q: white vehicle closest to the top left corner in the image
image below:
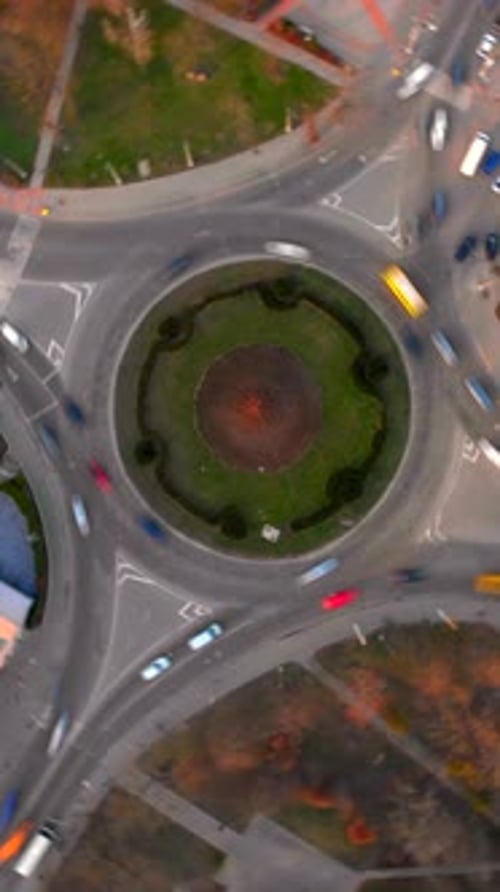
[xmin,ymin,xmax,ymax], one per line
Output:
[0,321,28,352]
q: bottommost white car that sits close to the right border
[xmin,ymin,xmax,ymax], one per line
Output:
[477,435,500,469]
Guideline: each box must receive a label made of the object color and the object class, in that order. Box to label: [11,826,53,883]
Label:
white truck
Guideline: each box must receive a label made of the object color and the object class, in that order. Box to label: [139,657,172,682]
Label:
white car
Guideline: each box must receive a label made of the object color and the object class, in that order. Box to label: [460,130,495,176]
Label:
white truck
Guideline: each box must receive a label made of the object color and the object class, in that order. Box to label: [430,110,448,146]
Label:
white car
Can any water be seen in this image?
No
